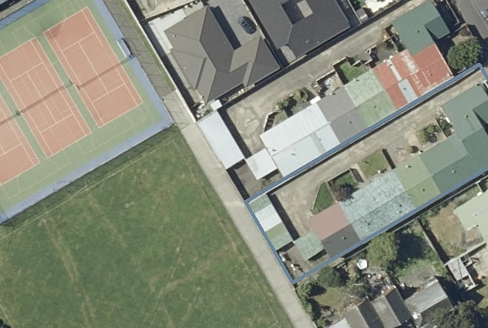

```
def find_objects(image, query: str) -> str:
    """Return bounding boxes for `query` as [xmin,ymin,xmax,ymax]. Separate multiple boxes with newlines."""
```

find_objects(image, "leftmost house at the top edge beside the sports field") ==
[162,5,281,105]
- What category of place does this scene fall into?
sports ground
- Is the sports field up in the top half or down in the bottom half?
bottom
